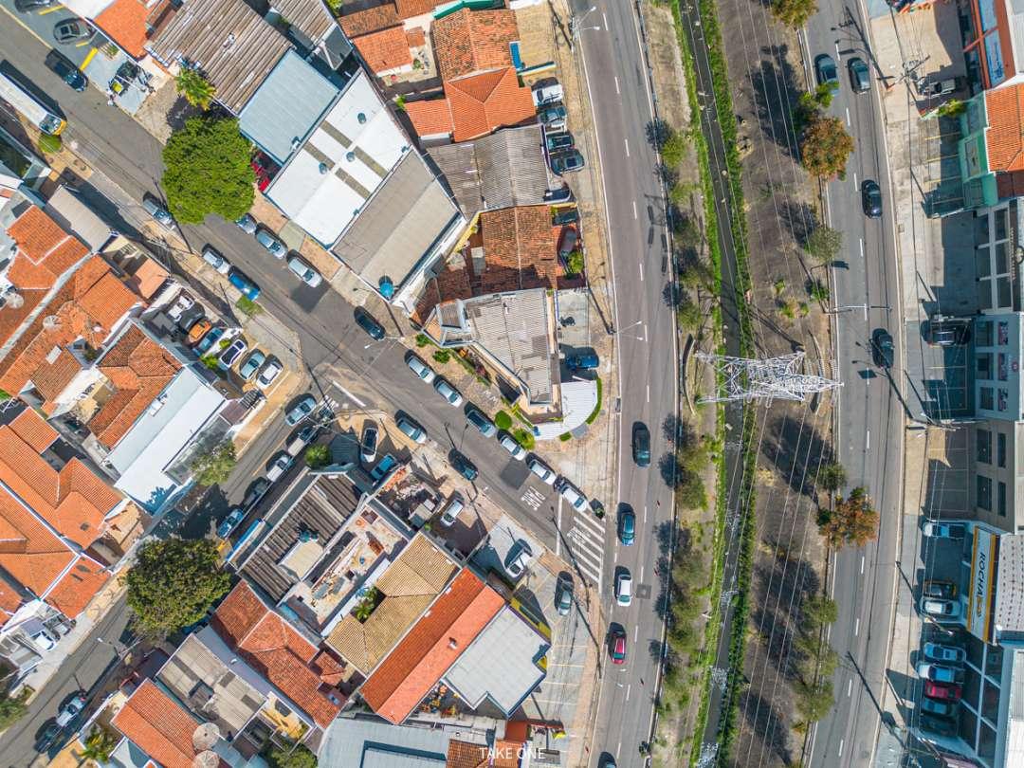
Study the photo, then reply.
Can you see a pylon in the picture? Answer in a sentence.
Yes, there's a pylon here.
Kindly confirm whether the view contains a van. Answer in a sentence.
Yes, the frame does contain a van.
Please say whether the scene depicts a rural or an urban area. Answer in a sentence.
This place is urban.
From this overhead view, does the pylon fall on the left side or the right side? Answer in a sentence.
The pylon sits on the right side.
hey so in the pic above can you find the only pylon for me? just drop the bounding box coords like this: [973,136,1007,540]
[693,349,846,407]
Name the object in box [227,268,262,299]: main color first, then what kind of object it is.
blue van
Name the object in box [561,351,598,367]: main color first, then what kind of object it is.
blue vehicle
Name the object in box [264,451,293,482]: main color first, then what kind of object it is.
white truck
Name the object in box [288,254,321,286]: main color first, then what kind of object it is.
white car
